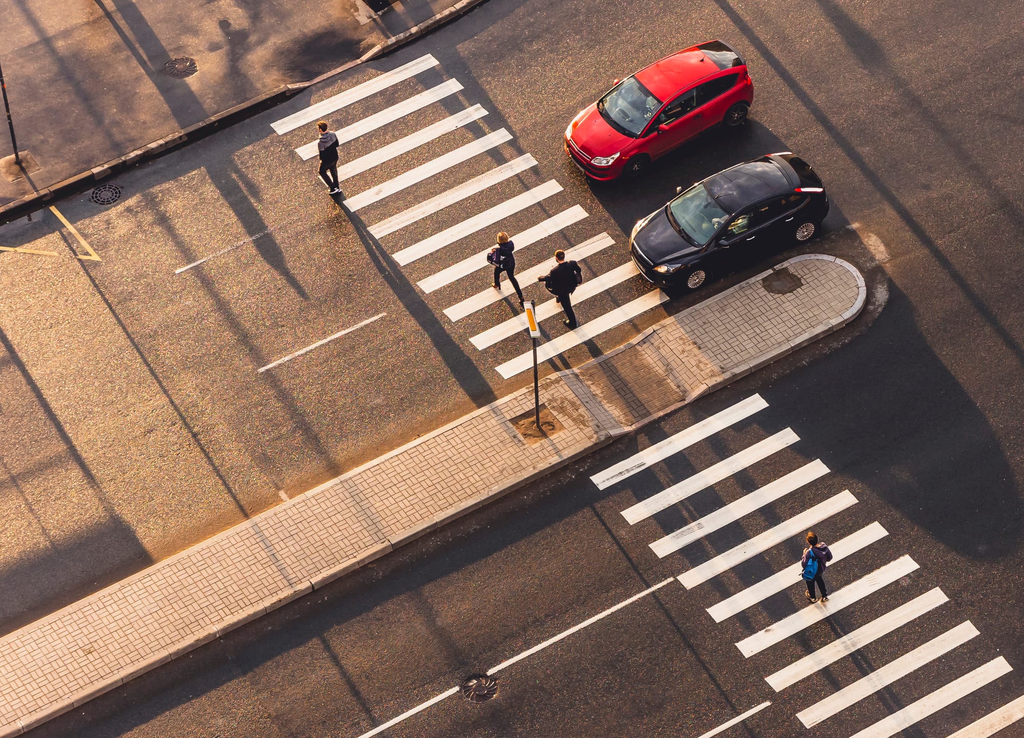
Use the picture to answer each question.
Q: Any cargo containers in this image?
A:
No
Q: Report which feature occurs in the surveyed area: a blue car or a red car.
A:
red car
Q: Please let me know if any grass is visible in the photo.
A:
No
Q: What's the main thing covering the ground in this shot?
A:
paved ground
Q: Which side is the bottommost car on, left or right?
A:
right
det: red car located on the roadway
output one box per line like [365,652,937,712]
[563,42,759,177]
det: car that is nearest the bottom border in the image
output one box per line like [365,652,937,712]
[621,155,832,293]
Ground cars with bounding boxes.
[621,155,832,293]
[563,42,759,177]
